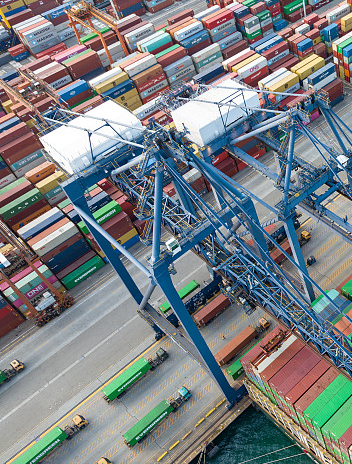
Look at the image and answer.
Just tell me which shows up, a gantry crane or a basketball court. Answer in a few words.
gantry crane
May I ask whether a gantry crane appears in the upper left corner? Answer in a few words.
Yes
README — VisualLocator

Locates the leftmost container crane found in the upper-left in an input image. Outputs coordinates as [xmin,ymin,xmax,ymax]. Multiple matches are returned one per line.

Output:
[2,77,69,127]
